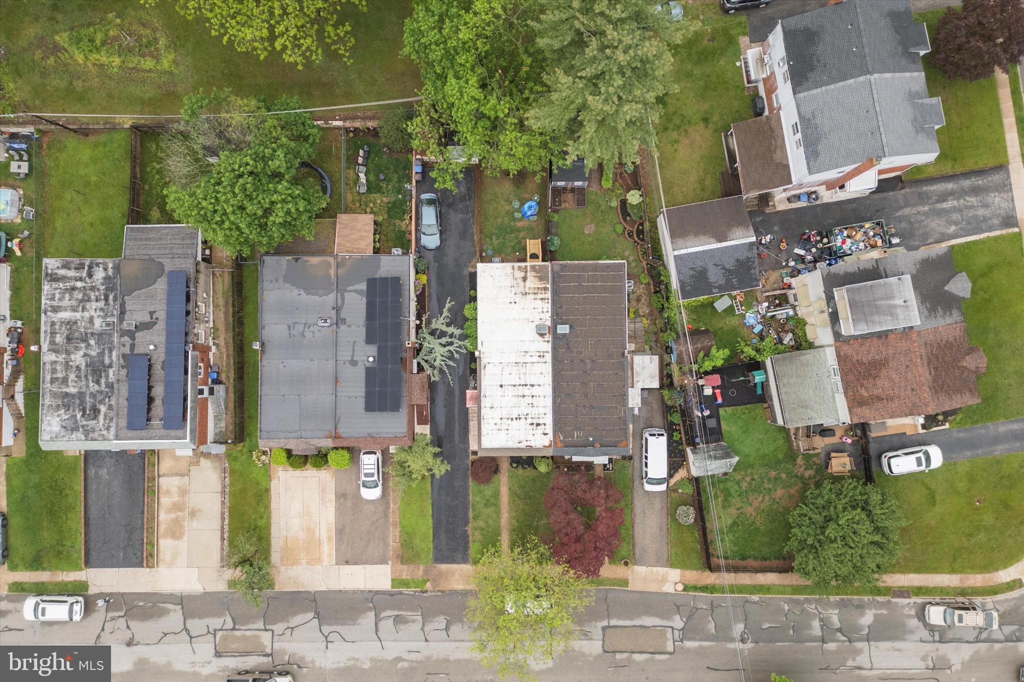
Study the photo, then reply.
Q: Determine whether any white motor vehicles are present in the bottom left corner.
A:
Yes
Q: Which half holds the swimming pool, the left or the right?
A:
left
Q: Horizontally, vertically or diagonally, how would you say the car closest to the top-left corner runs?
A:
vertically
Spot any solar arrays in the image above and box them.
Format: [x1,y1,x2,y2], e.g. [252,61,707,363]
[127,356,149,429]
[162,271,187,429]
[366,277,401,412]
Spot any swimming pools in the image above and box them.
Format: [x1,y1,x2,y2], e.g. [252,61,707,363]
[0,184,27,219]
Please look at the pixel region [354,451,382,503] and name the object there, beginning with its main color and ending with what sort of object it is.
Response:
white car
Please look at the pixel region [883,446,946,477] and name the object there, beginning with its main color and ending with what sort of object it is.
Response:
white car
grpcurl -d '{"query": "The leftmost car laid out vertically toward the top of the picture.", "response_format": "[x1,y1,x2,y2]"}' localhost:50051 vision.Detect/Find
[414,192,441,248]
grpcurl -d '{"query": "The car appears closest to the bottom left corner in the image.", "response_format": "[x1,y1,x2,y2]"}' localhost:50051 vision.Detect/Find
[24,596,83,627]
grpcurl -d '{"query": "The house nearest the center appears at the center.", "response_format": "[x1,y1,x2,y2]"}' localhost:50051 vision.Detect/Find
[466,260,658,465]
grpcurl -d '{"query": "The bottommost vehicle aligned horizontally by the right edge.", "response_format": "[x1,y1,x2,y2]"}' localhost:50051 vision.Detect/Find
[930,604,1008,634]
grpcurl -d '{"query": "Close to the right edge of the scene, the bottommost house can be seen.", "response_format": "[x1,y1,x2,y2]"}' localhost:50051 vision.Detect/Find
[763,247,987,447]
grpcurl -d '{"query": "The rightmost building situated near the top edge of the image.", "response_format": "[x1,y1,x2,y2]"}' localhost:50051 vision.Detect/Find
[723,0,946,210]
